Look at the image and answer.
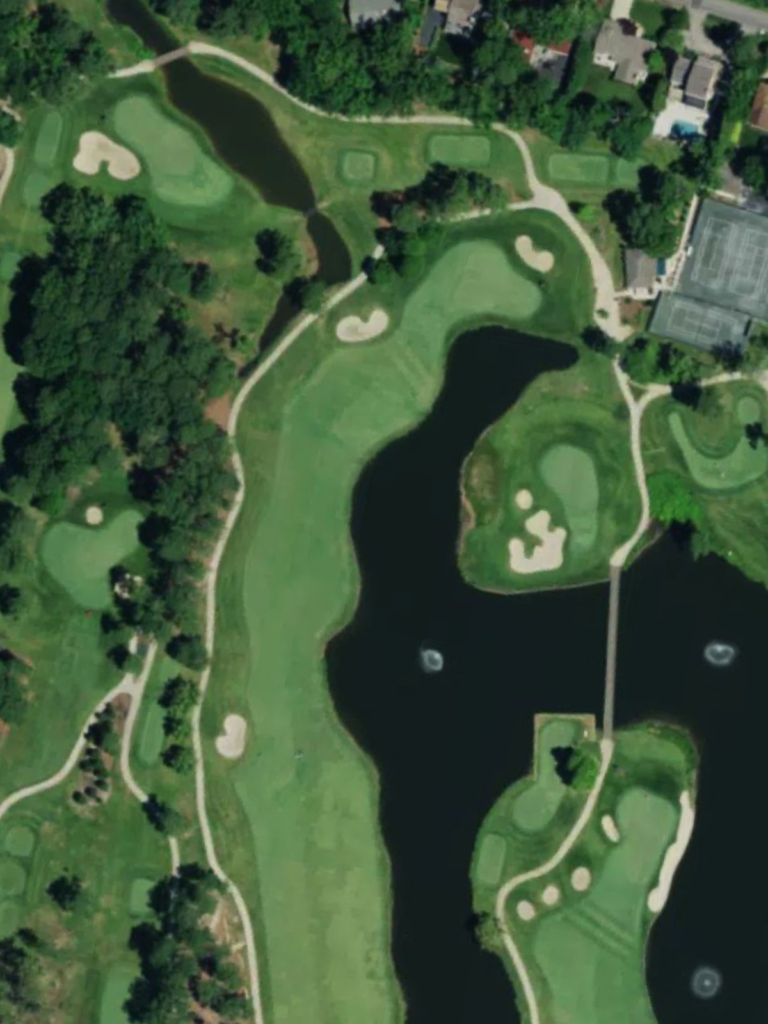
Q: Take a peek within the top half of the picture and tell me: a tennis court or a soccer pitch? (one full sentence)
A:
What appears within the top half of the picture is a tennis court.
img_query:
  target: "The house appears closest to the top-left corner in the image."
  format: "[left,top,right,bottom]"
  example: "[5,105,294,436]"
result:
[344,0,399,28]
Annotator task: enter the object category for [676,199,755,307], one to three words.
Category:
tennis court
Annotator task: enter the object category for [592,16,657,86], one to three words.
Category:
house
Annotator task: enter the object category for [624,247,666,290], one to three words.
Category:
building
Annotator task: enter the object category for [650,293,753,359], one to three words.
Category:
tennis court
